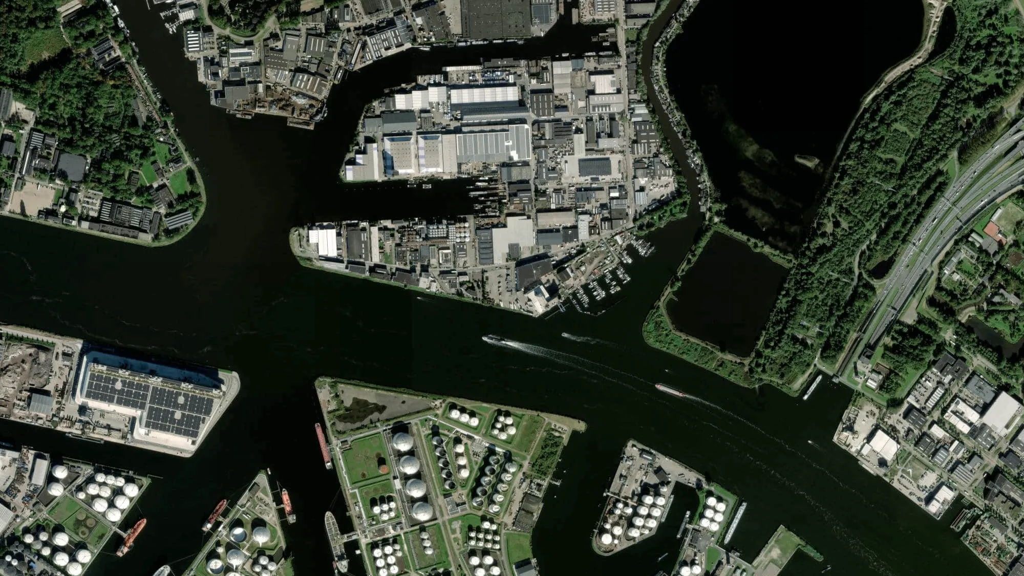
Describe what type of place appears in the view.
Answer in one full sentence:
This looks like a port.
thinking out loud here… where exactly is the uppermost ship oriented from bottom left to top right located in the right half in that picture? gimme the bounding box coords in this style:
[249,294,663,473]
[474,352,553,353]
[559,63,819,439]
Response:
[803,375,822,400]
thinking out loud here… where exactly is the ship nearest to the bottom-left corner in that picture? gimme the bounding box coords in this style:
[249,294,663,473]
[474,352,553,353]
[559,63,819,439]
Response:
[117,518,146,558]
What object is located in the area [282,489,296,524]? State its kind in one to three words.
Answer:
ship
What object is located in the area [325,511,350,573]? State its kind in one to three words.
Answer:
ship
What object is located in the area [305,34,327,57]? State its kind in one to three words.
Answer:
building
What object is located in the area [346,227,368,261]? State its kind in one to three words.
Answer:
building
